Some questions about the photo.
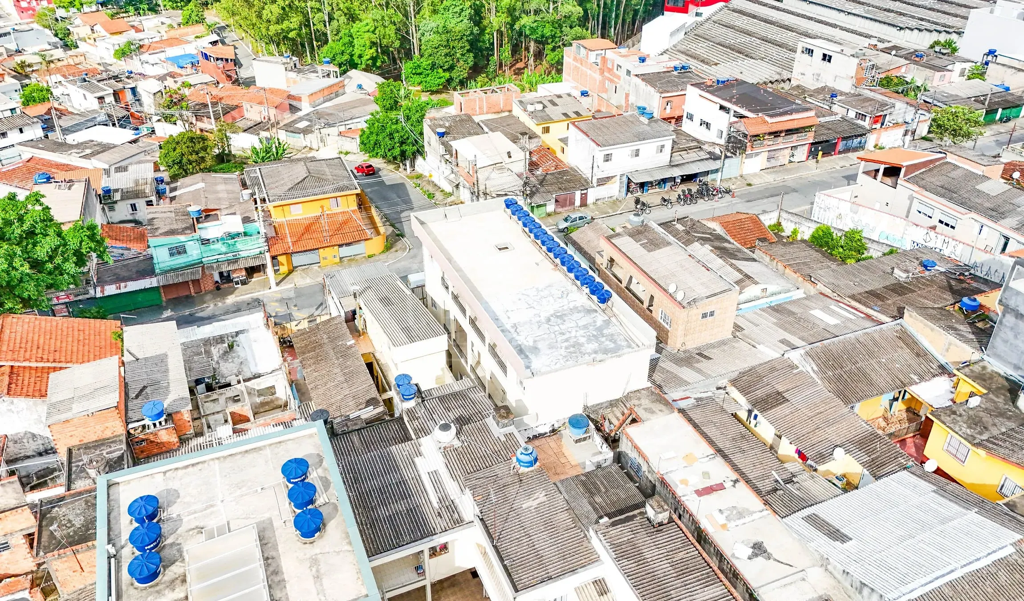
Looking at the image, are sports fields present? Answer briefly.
No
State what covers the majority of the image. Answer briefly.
buildings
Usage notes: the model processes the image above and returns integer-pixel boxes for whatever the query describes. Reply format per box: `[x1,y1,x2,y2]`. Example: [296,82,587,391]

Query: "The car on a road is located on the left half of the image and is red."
[354,159,376,174]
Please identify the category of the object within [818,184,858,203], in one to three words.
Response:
house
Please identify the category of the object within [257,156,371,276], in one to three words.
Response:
house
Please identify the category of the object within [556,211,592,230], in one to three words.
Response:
car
